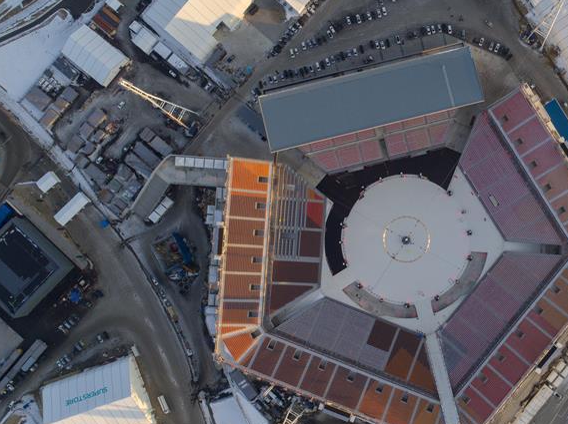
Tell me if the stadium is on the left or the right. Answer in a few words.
right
